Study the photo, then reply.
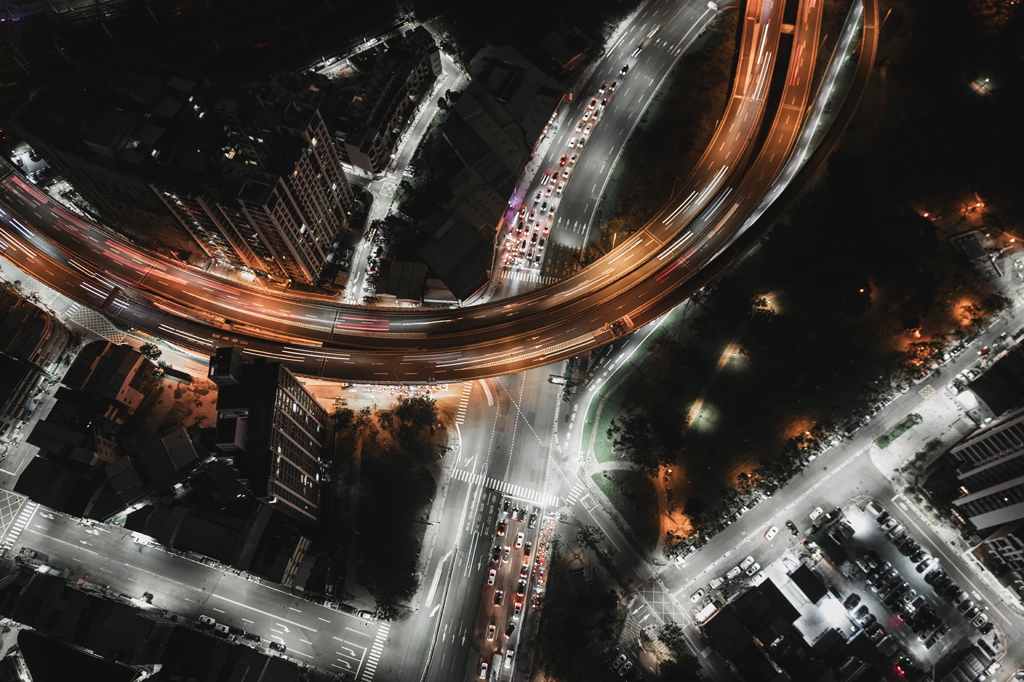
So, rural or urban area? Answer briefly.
urban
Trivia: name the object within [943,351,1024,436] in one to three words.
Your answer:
building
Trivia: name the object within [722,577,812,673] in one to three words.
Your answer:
building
